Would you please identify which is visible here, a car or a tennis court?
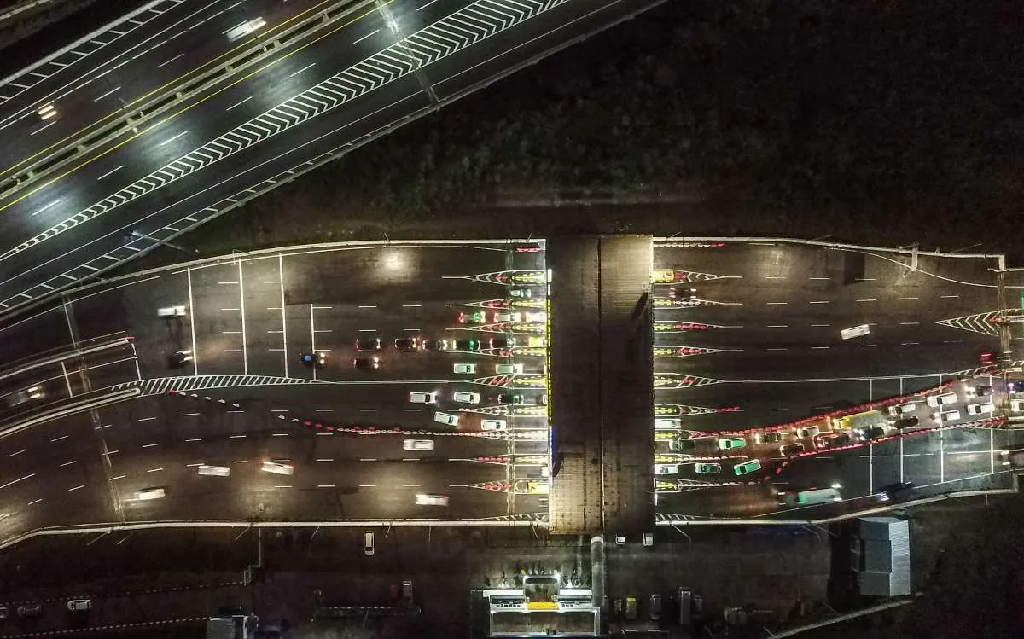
car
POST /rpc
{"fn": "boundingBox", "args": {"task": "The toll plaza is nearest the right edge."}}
[551,235,653,534]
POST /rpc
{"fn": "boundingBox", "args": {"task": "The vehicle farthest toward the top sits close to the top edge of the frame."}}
[227,18,266,44]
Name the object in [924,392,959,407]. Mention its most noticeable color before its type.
white car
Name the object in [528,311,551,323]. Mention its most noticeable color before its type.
white vehicle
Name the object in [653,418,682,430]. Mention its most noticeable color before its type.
white vehicle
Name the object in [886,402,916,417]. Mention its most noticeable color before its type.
white car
